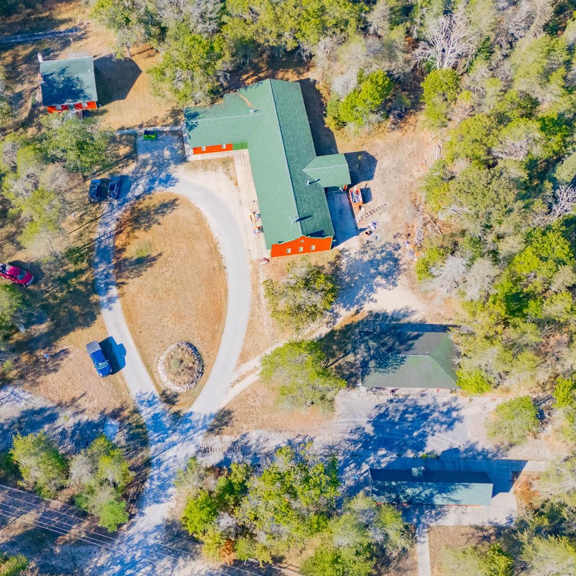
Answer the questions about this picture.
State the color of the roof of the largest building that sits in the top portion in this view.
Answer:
green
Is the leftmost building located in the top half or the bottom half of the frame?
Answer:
top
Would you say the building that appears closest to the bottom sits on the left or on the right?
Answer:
right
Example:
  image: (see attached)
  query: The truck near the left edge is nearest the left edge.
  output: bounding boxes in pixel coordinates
[0,261,37,288]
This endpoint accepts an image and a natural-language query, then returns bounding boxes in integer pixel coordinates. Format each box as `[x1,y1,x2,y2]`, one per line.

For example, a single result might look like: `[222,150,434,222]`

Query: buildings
[369,468,493,507]
[37,50,99,121]
[358,331,460,390]
[184,80,351,257]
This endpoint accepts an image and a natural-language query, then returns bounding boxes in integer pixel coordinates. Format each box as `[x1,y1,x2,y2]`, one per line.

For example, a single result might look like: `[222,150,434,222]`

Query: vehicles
[87,178,105,207]
[105,174,123,204]
[84,339,113,381]
[0,261,37,288]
